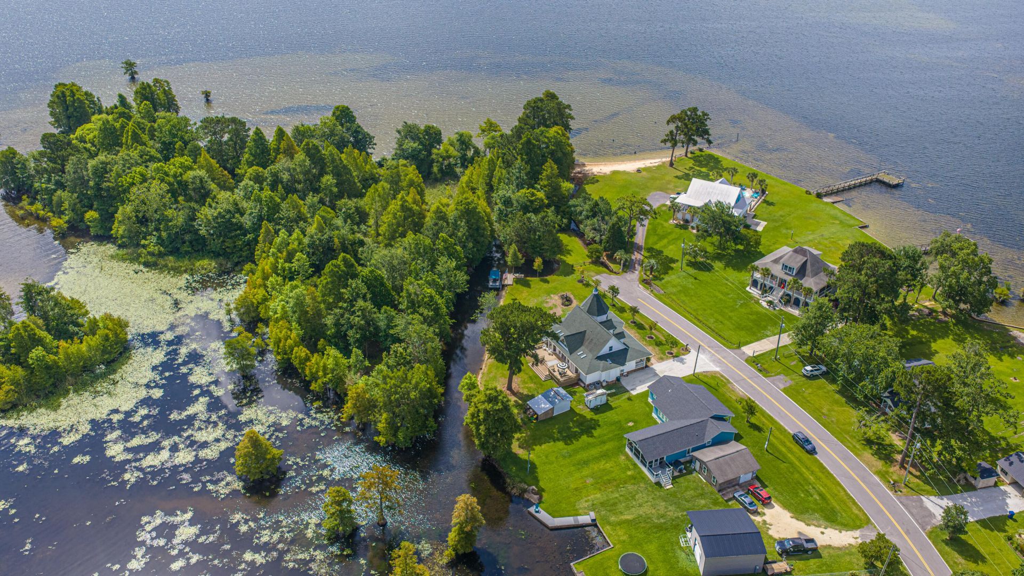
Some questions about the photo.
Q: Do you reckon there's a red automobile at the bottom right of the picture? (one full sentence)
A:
Yes, at the bottom right of the picture there is a red automobile.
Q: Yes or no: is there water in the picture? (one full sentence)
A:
Yes, there is water in the image.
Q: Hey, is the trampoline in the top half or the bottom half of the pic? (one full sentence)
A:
The trampoline is in the bottom half of the image.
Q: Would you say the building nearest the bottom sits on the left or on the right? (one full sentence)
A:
You can find the building nearest the bottom on the right side of the picture.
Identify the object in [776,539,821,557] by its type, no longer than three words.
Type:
vehicle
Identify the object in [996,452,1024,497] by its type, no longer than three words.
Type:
building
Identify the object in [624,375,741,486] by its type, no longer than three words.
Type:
house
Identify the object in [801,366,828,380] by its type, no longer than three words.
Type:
car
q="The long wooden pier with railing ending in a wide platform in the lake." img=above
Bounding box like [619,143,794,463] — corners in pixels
[812,169,907,195]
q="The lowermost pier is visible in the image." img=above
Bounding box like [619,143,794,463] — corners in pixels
[528,502,597,532]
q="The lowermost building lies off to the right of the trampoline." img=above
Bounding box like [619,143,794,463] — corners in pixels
[686,508,766,572]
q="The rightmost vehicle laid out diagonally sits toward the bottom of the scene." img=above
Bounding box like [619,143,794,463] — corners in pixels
[792,433,818,456]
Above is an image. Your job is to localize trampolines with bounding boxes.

[620,552,648,575]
